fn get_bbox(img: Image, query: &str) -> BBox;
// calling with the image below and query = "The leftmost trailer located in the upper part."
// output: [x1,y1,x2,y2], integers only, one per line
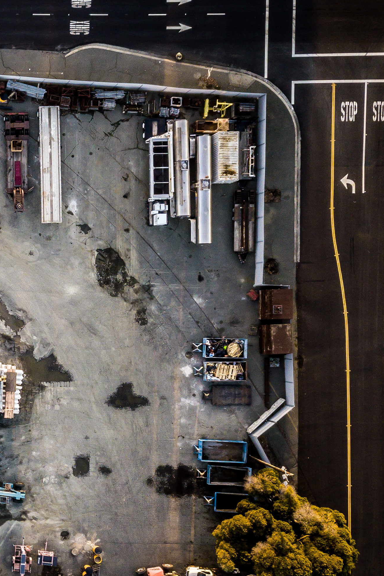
[4,112,29,211]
